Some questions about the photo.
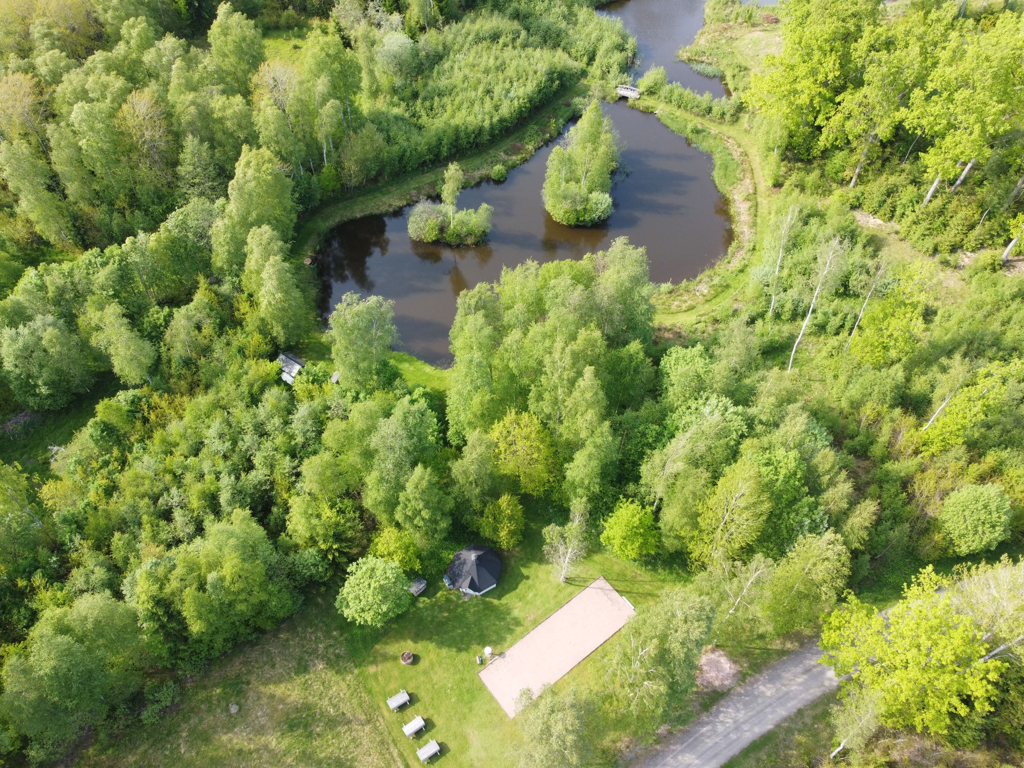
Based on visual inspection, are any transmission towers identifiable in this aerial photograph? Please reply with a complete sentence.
No, there's no transmission tower here.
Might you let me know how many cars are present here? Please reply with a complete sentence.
The photo contains no cars.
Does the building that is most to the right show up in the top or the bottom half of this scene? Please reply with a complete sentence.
The building that is most to the right sits in the bottom half of the picture.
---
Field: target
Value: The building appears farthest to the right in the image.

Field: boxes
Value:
[448,544,501,603]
